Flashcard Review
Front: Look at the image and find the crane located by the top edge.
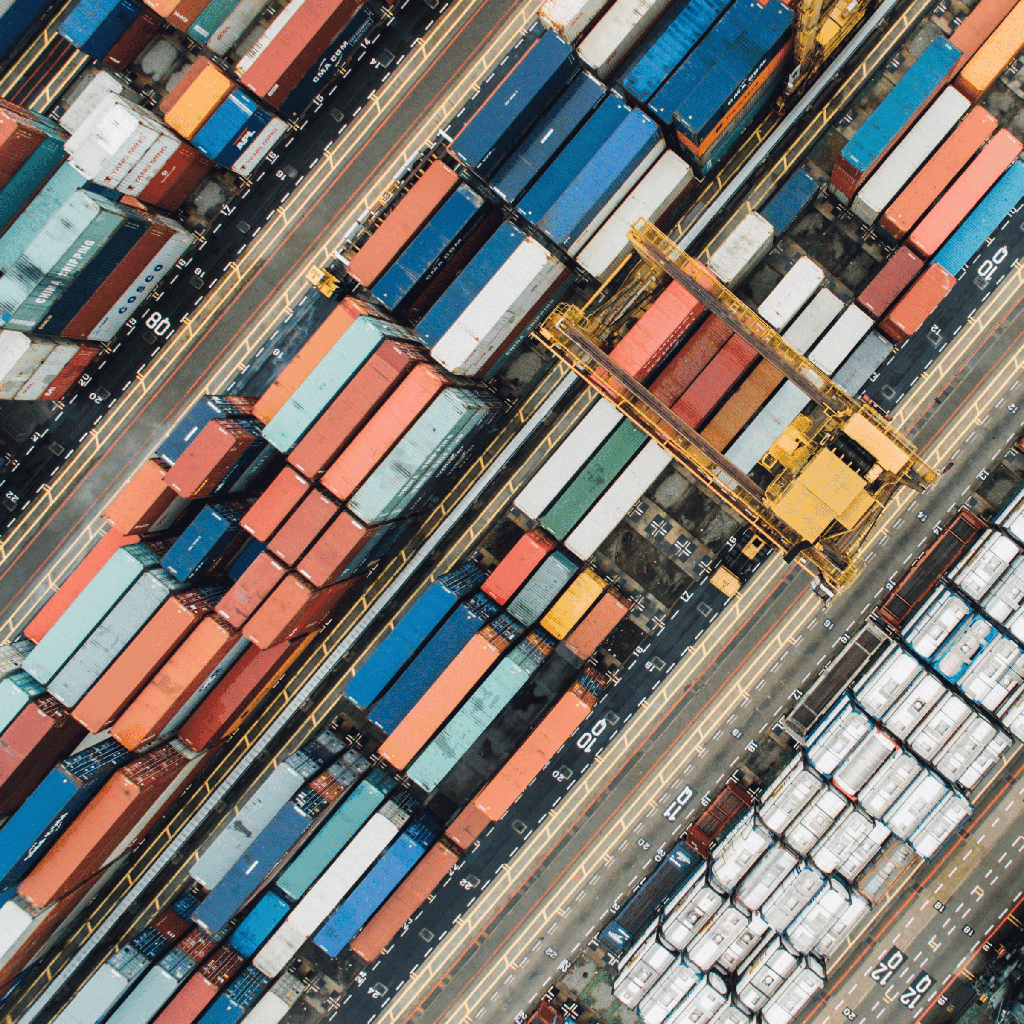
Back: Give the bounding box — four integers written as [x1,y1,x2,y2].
[769,0,890,121]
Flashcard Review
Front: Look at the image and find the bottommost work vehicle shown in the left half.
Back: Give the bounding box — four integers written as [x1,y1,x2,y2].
[297,247,355,297]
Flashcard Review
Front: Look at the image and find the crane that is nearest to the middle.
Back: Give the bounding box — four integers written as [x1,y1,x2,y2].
[528,213,957,603]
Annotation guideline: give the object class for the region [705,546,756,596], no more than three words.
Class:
work vehicle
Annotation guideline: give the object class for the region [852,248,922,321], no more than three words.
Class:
shipping container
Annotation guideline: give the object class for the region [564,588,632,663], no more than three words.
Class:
shipping container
